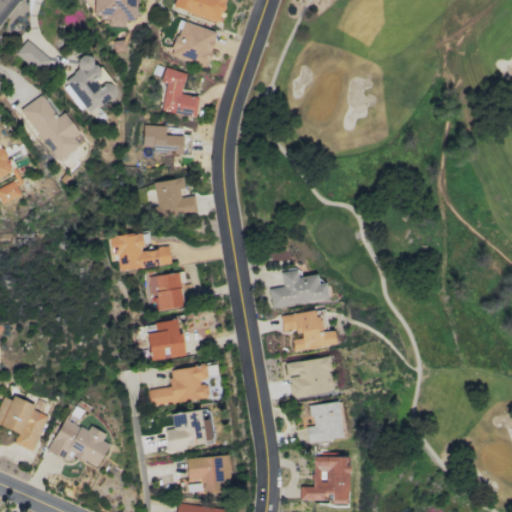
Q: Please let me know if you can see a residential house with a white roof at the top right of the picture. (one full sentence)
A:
No, at the top right of the picture there is no residential house with a white roof.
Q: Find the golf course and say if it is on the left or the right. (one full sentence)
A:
It is on the right.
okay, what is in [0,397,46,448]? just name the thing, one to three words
house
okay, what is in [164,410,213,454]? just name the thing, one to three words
house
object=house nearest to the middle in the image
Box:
[270,270,331,307]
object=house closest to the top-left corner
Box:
[17,40,56,72]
